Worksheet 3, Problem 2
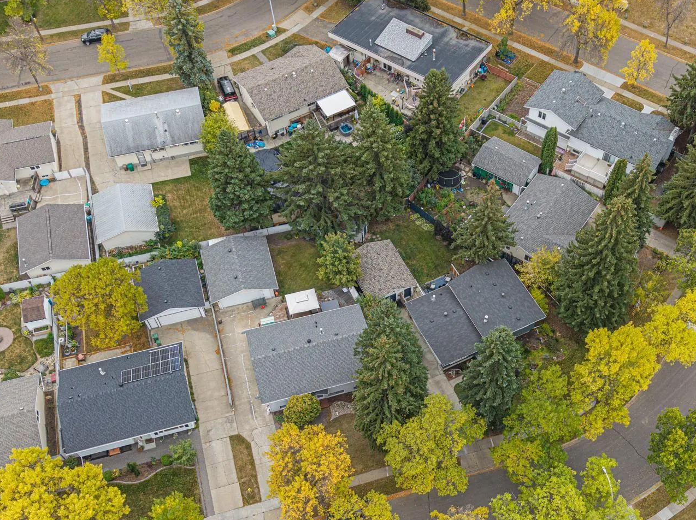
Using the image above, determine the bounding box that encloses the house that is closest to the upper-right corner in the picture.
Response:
[523,70,683,186]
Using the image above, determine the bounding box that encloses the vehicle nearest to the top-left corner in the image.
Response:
[79,23,115,46]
